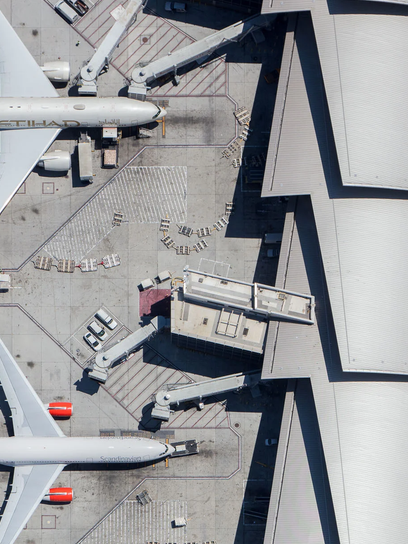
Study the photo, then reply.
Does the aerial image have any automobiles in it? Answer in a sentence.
Yes, the frame does contain an automobile.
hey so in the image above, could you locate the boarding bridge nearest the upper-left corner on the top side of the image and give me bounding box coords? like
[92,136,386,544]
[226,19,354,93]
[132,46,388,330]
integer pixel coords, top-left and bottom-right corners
[74,0,148,97]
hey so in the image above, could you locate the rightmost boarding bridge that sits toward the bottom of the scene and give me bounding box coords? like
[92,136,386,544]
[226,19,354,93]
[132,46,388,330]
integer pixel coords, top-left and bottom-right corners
[148,363,271,422]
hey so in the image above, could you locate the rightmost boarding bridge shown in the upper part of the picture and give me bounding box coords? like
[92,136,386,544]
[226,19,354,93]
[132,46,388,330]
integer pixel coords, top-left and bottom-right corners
[124,4,271,100]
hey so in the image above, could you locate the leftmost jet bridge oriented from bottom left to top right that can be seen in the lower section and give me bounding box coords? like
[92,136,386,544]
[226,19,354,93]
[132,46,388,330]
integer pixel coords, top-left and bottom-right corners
[86,313,171,386]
